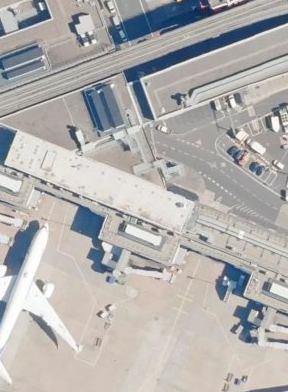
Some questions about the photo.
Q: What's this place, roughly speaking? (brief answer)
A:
airport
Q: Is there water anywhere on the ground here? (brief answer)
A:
No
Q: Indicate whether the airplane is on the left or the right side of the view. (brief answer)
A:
left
